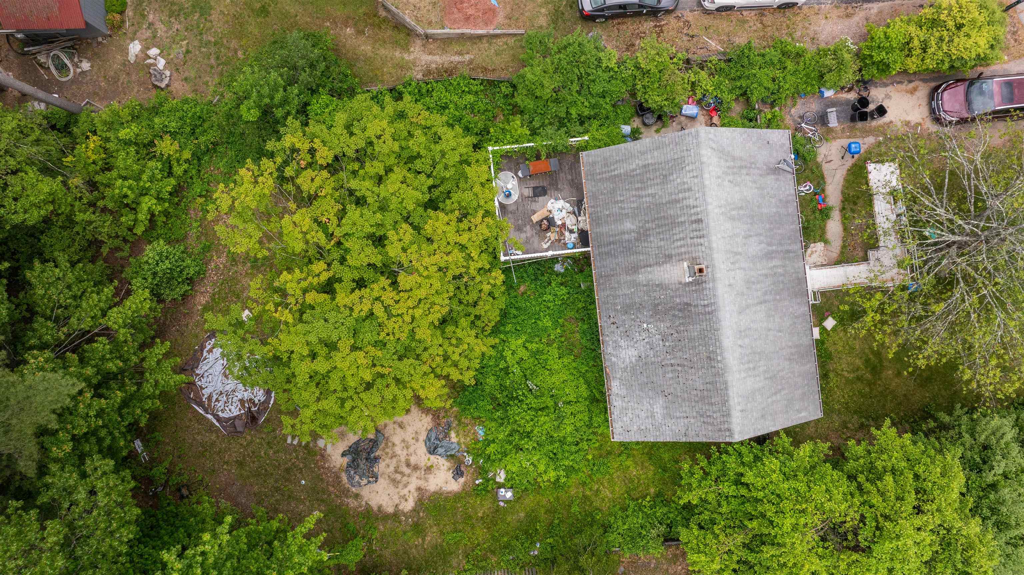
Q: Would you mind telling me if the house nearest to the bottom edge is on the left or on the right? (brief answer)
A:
right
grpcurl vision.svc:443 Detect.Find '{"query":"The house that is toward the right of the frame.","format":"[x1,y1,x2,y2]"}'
[579,128,822,443]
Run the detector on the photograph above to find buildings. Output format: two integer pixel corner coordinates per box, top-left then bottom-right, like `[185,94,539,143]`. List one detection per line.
[579,128,822,443]
[0,0,108,39]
